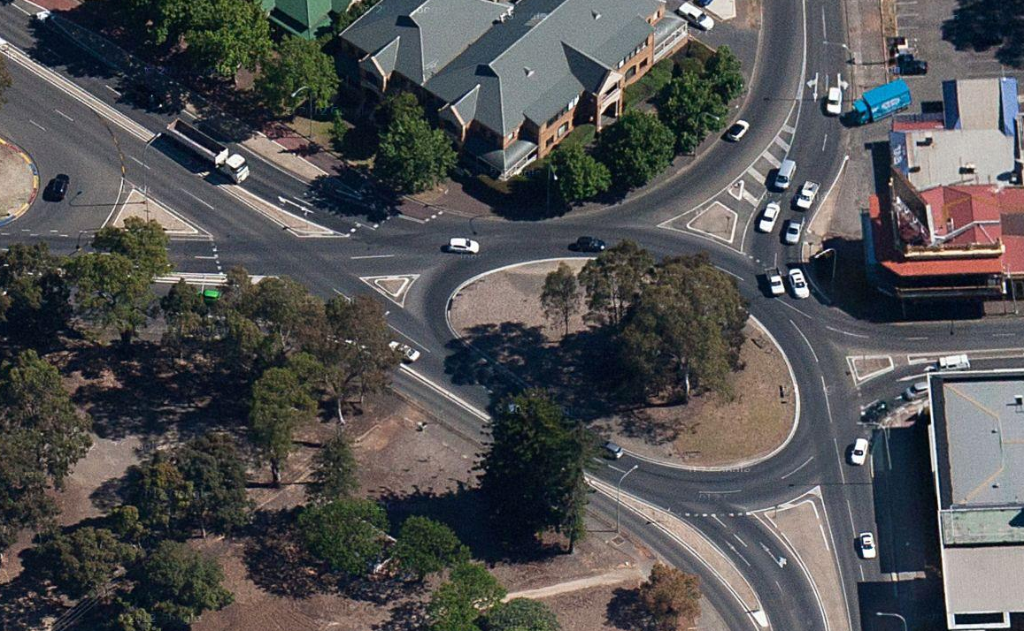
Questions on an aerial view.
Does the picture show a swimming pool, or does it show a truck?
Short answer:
truck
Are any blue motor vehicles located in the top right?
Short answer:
Yes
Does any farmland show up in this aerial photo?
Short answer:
No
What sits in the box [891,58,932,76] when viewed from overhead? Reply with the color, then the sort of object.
black vehicle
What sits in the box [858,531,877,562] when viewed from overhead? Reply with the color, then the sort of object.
white car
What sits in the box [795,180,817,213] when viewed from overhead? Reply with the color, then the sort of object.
white truck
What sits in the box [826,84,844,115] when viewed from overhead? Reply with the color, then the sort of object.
white car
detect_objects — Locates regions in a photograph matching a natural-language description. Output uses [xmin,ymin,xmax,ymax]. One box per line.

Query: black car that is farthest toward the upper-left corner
[50,173,69,202]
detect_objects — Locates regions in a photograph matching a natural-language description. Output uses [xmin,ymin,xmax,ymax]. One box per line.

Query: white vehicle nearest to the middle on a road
[446,237,480,255]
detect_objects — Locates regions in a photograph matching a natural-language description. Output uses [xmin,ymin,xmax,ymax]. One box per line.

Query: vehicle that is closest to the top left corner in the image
[27,0,57,26]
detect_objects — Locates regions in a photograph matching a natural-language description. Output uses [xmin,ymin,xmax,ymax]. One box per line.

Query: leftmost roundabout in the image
[0,139,38,222]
